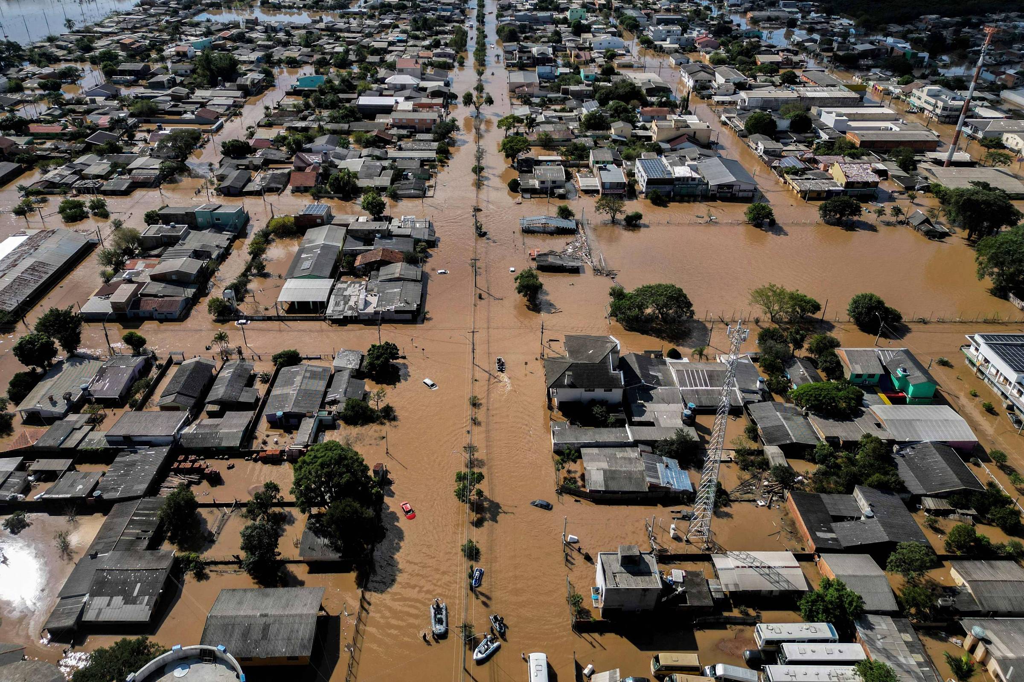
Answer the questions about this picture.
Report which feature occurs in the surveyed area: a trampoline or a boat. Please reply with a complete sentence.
I can see a boat in this picture.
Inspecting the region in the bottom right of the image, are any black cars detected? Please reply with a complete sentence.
Yes, in the bottom right of the image there is a black car.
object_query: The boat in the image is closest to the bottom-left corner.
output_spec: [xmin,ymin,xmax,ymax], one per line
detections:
[428,597,448,635]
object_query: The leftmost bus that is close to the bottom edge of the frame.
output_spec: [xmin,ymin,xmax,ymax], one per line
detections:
[527,655,547,682]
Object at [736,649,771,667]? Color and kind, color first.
black car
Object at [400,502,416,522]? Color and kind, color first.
red car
